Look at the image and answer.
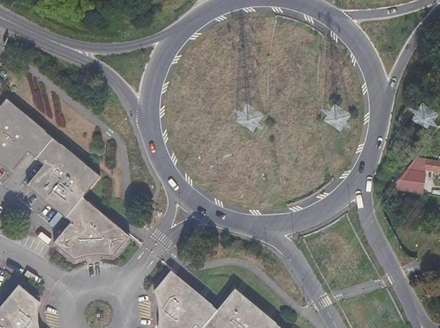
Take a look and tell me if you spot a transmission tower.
Yes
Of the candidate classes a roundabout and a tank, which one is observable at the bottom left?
roundabout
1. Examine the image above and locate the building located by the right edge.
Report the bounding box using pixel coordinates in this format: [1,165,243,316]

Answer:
[396,157,440,194]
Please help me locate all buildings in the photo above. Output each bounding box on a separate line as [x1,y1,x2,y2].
[0,99,132,263]
[396,157,440,194]
[0,285,40,328]
[154,270,280,328]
